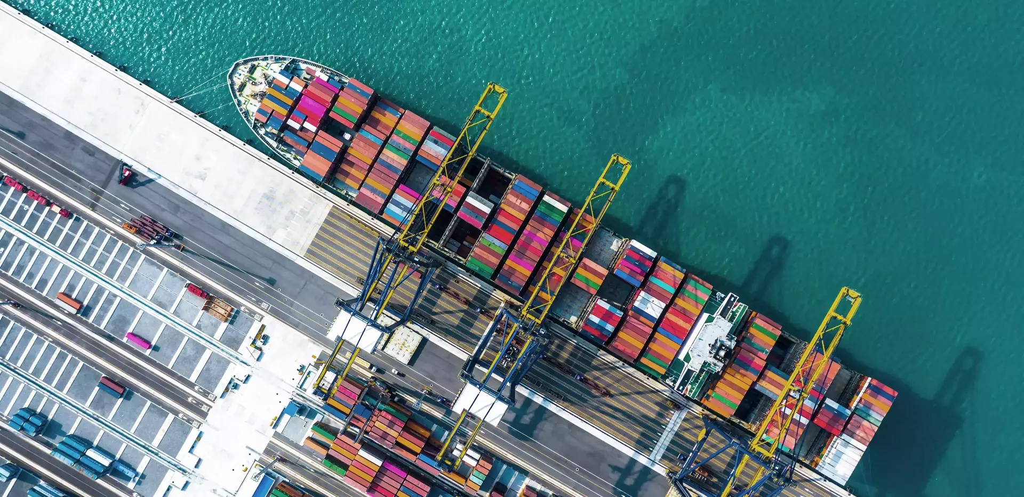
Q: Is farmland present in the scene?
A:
No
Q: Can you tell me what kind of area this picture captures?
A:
port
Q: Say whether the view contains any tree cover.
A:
No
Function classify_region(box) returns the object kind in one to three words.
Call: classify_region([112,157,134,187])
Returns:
work vehicle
